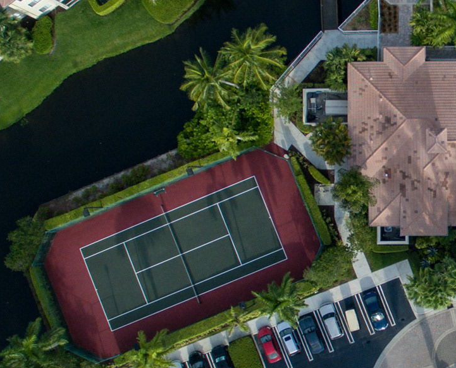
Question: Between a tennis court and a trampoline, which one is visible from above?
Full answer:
It is a tennis court that can be seen here.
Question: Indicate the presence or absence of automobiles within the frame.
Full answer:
Yes, an automobile is visible in the scene.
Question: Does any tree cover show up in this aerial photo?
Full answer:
Yes, some tree cover is visible.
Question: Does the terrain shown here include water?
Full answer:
Yes, some water is visible.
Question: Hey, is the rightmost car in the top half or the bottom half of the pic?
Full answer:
Seen from above, the rightmost car lies in the bottom half of the view.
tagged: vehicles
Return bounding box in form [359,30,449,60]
[188,349,211,368]
[257,325,283,363]
[277,319,302,357]
[364,291,390,331]
[211,341,236,368]
[298,312,327,355]
[343,302,360,327]
[319,301,345,341]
